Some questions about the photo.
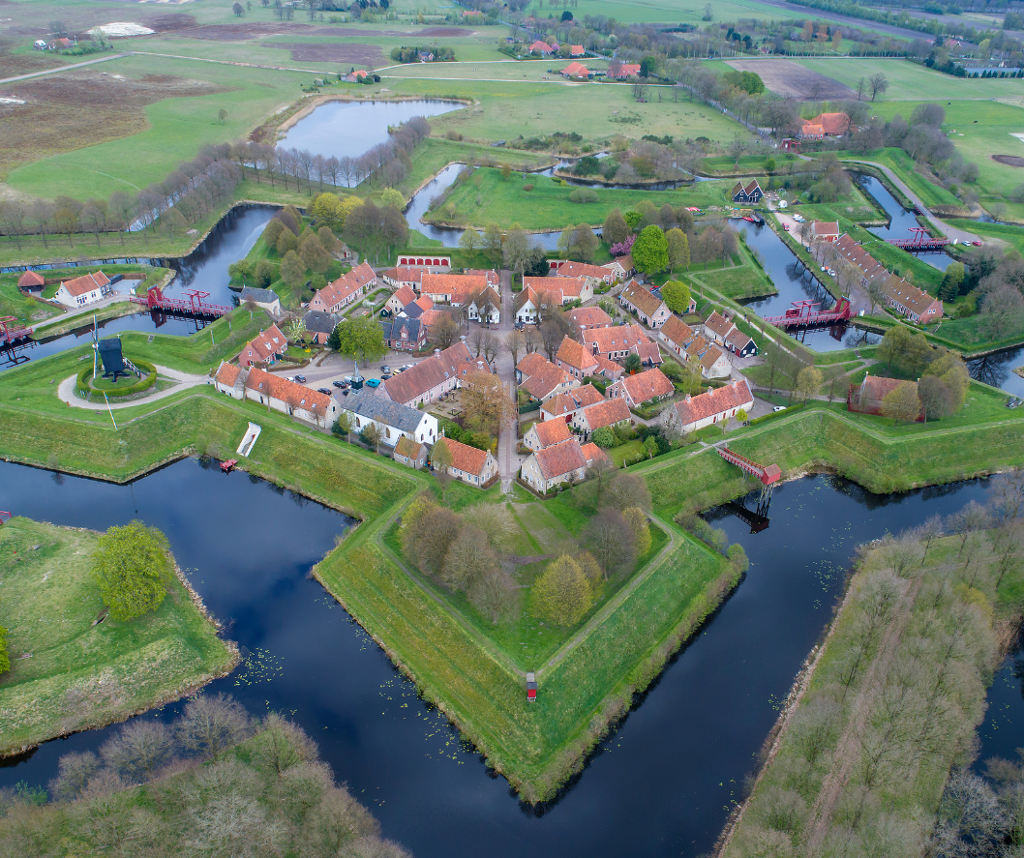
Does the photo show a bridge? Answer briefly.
Yes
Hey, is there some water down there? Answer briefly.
Yes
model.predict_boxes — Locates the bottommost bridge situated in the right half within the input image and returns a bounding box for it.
[761,297,859,328]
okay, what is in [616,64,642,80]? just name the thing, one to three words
house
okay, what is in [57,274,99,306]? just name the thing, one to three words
house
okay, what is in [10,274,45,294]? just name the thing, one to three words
building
